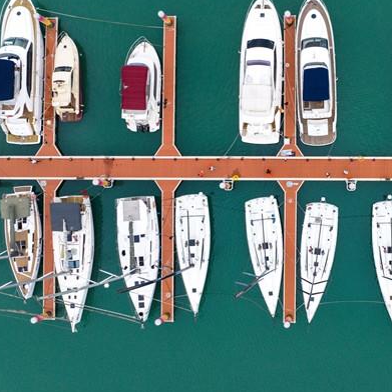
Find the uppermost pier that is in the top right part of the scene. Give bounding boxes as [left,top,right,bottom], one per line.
[276,15,303,156]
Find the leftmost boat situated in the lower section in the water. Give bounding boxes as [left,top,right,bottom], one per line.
[0,186,43,304]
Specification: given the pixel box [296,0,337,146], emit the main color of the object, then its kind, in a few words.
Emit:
white boat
